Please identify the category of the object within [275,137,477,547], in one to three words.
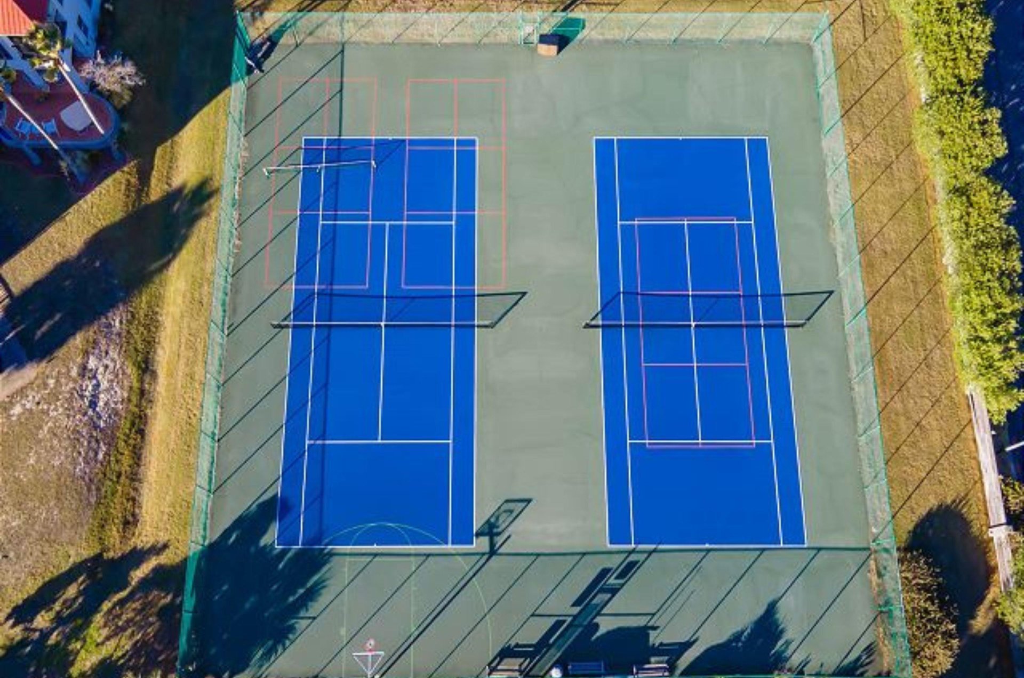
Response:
tennis court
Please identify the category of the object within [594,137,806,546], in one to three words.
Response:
tennis court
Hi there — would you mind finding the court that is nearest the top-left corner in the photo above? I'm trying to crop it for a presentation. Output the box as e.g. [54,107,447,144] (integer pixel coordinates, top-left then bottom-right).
[264,78,377,288]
